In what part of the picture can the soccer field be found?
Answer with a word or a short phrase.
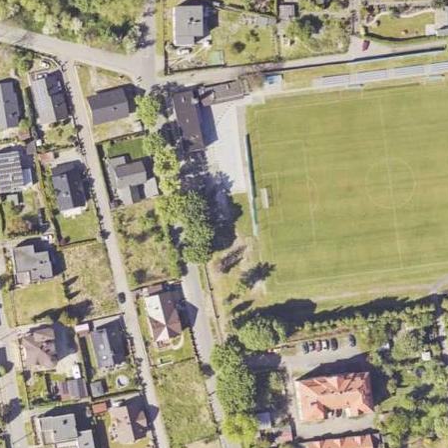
right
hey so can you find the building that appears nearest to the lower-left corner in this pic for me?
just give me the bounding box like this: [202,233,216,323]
[37,413,77,447]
